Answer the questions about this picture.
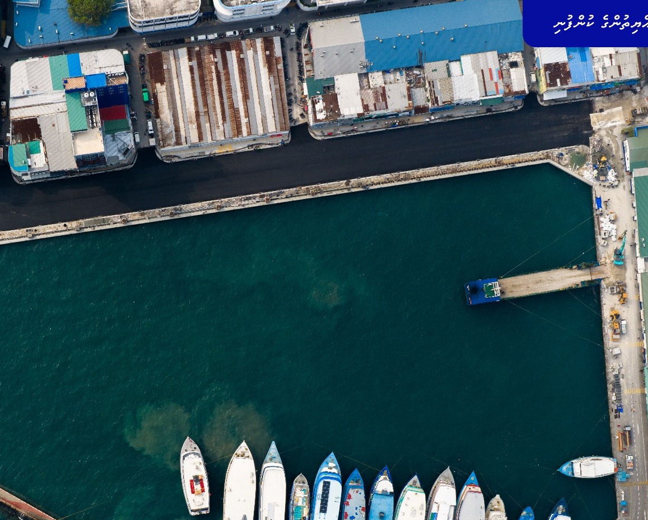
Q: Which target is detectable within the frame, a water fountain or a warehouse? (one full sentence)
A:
Visible in the photo is a warehouse.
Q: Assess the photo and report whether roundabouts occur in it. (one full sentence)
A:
No, this view has no roundabout in it.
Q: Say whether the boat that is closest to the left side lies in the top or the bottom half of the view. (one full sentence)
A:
The boat that is closest to the left side is in the bottom half of the image.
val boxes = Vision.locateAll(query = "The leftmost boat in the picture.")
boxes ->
[180,438,210,517]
